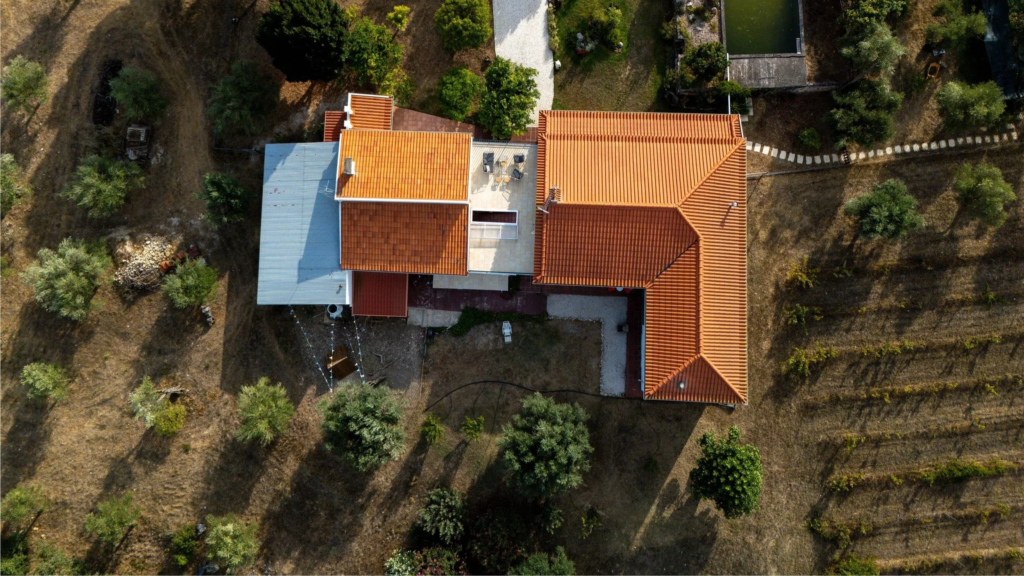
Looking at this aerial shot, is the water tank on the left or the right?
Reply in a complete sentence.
It is on the right.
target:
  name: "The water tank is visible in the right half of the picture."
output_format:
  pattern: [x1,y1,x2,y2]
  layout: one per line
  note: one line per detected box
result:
[718,0,805,61]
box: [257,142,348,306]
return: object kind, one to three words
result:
shed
